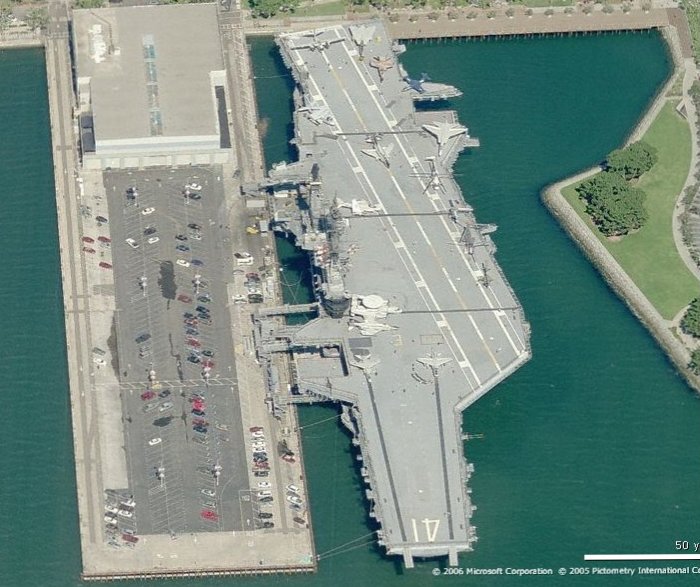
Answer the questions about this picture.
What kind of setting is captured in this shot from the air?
port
